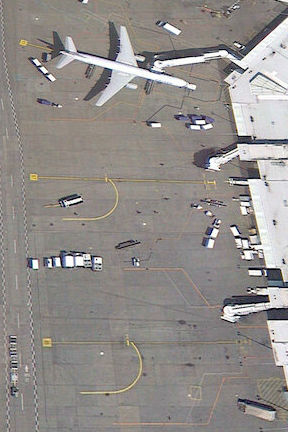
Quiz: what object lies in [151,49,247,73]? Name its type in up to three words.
jet bridge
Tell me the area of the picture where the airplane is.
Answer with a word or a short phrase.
top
